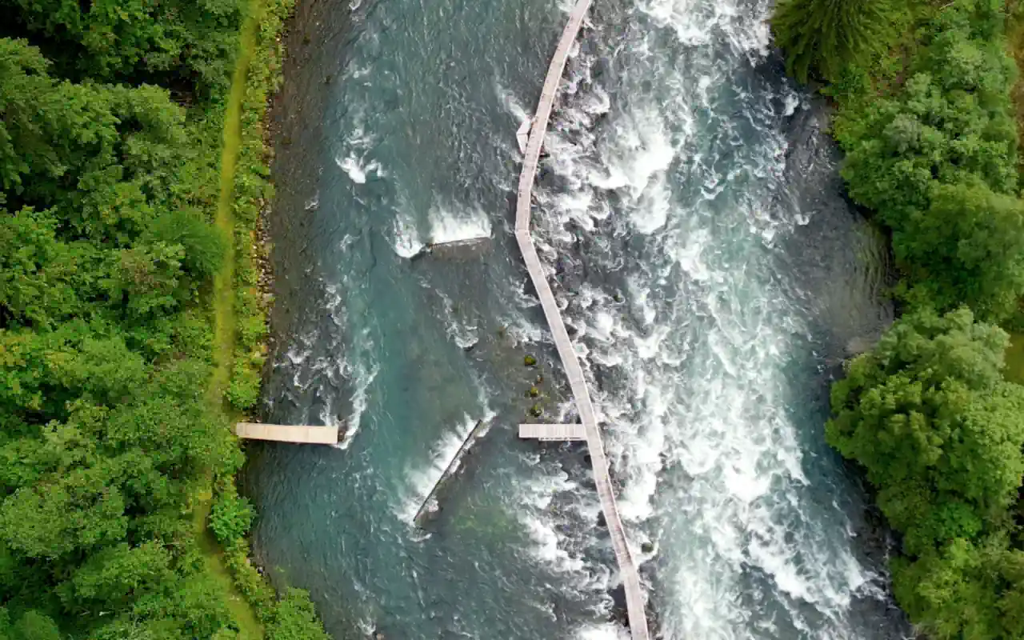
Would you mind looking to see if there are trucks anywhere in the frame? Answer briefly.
No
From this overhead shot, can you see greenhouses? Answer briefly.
No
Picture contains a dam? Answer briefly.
Yes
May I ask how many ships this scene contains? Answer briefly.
zero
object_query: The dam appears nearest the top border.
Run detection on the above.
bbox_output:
[410,236,492,260]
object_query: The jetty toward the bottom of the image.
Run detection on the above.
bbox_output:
[236,422,340,444]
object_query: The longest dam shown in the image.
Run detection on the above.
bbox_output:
[413,420,493,525]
